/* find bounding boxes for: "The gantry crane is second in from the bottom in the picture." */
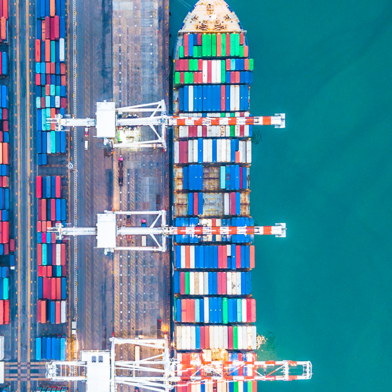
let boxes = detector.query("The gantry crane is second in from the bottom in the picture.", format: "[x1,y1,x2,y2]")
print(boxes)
[46,207,285,254]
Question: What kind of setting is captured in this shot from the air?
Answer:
port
